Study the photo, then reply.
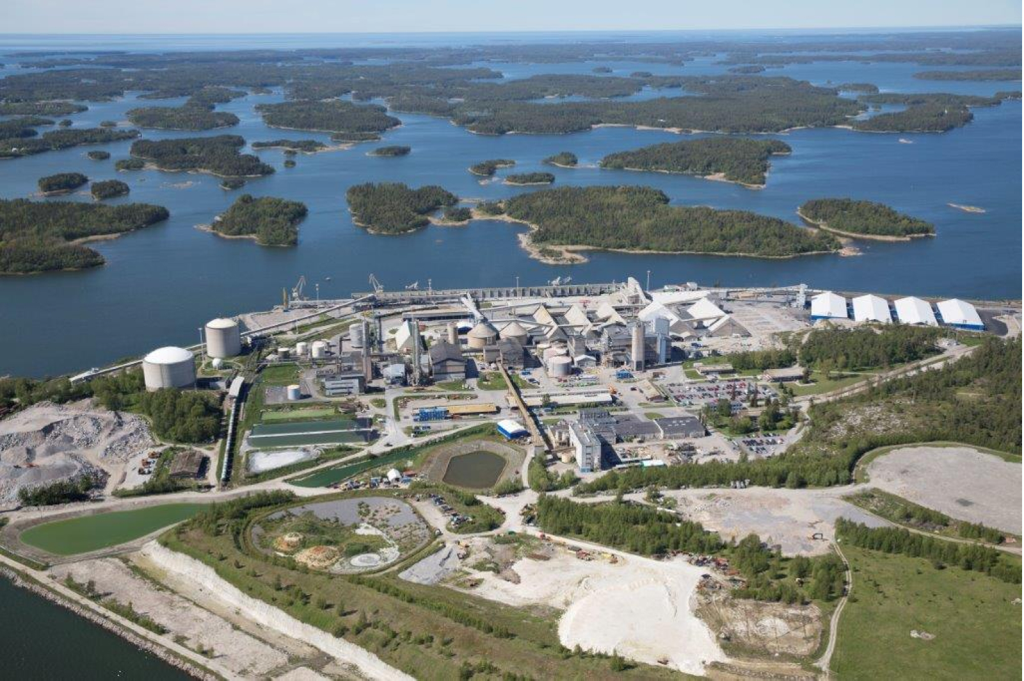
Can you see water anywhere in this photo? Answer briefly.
Yes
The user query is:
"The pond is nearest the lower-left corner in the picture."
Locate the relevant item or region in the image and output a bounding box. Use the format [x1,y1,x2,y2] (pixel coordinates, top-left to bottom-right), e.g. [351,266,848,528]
[21,503,211,555]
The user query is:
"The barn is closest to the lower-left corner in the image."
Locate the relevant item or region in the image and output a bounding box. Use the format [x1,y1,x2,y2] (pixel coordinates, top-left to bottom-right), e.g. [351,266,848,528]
[169,449,204,477]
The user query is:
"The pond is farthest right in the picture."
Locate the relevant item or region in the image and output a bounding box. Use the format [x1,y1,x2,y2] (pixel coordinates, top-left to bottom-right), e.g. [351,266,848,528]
[443,451,507,488]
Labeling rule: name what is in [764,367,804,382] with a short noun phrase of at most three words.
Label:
house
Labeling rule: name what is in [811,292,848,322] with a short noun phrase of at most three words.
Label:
building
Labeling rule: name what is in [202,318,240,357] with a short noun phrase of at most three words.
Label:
storage tank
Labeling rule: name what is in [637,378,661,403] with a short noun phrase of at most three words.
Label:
shed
